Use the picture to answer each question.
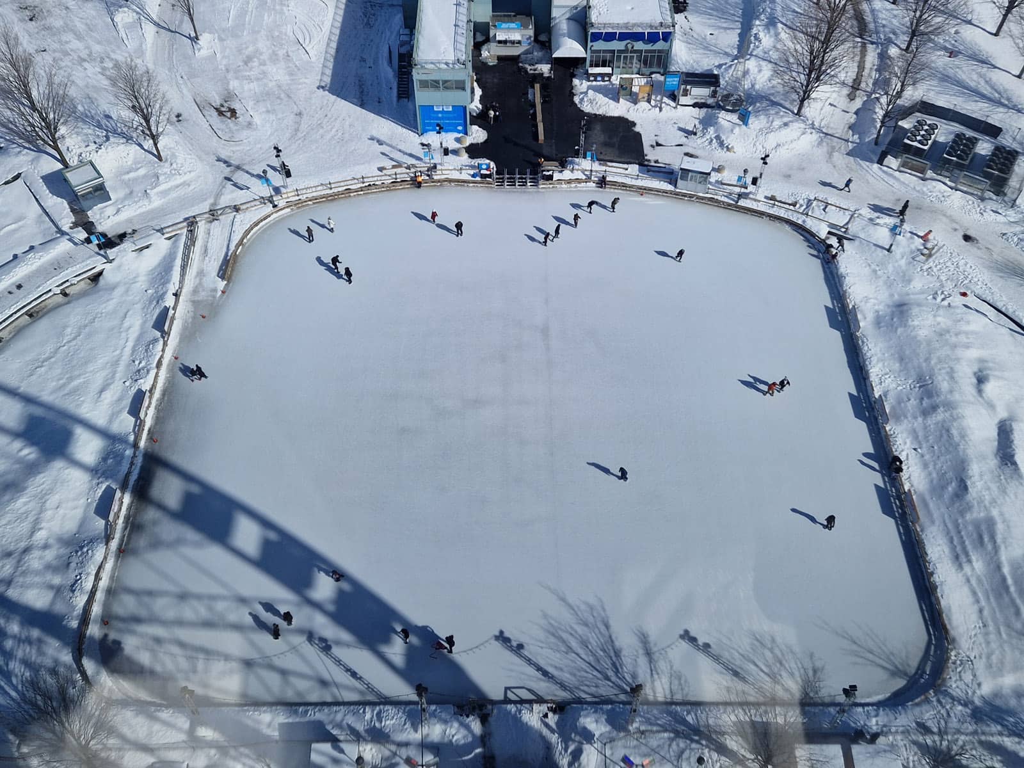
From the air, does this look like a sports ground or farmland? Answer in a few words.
sports ground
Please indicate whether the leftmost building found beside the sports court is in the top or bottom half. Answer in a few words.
top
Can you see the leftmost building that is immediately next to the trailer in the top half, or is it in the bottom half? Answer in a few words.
top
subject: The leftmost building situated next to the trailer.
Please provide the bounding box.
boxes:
[584,0,673,73]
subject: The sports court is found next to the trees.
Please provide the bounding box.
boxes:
[99,182,939,704]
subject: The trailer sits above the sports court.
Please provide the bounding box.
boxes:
[680,63,722,104]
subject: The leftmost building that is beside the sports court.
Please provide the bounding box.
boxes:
[411,0,474,135]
